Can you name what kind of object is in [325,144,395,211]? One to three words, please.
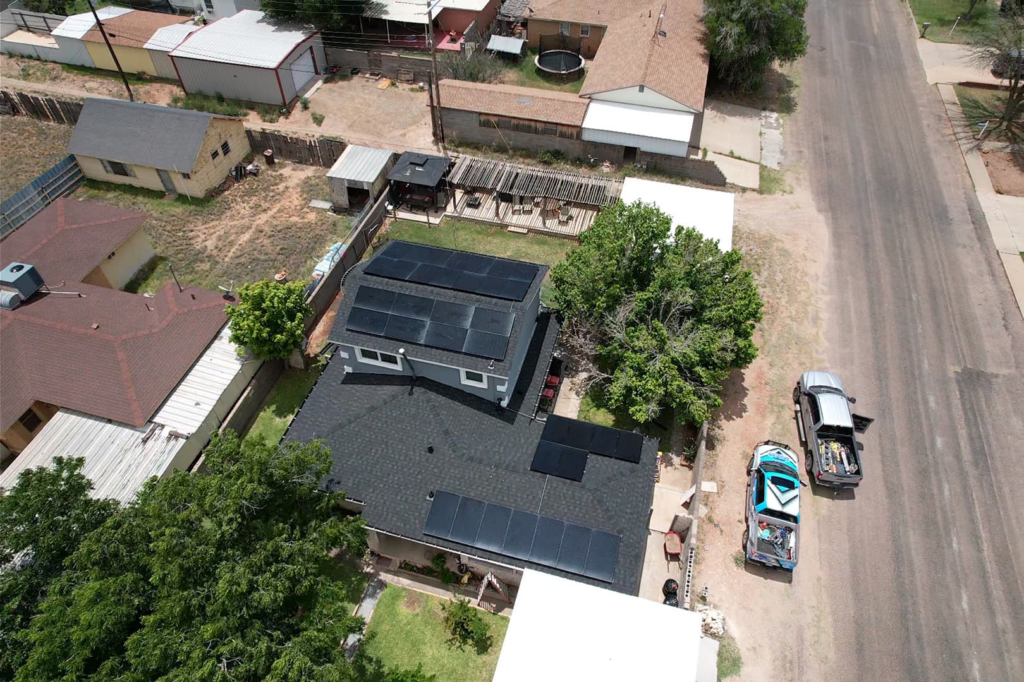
shed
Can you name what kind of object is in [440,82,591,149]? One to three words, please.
building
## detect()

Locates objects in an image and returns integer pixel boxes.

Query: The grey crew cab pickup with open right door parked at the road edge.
[795,373,881,495]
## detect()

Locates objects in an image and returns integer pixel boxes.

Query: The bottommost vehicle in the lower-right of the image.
[742,440,808,576]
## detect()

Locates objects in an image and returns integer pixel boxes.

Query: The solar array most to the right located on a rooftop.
[529,416,644,481]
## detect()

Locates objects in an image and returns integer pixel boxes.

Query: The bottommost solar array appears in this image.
[424,491,621,583]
